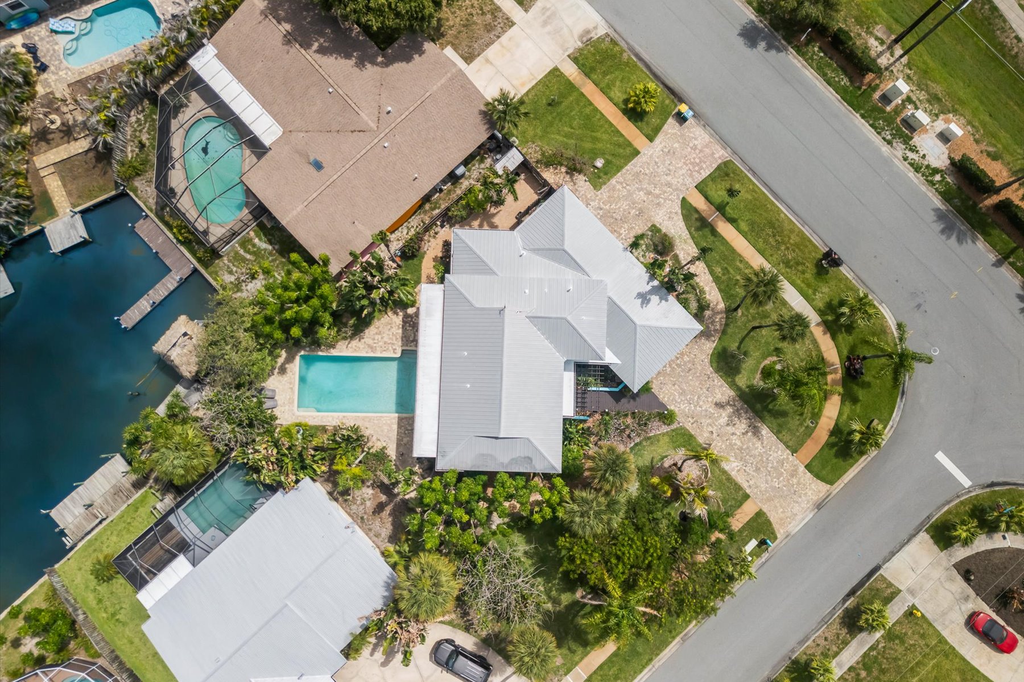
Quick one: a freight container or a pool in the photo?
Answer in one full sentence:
Of the two, only a pool appears.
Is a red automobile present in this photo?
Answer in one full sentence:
Yes, there's a red automobile here.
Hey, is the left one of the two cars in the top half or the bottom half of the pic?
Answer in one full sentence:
The bottom half of the photo is where the left one of the two cars is.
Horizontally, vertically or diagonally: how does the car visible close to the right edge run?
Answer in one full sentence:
Seen from above, the car visible close to the right edge lies diagonally.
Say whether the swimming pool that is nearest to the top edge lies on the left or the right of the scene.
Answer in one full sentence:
You can find the swimming pool that is nearest to the top edge on the left side of the picture.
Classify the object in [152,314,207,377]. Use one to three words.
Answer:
shed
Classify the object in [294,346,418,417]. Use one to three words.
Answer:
swimming pool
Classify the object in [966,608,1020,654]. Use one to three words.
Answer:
car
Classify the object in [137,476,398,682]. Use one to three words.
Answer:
house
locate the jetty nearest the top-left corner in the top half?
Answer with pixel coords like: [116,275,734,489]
[41,210,94,253]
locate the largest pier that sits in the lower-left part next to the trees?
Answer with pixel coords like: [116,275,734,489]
[46,453,149,544]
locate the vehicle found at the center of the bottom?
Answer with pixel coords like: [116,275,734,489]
[431,638,494,682]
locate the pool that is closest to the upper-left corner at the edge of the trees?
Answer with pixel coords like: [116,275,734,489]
[54,0,163,69]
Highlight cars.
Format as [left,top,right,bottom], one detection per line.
[431,638,494,682]
[966,608,1020,654]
